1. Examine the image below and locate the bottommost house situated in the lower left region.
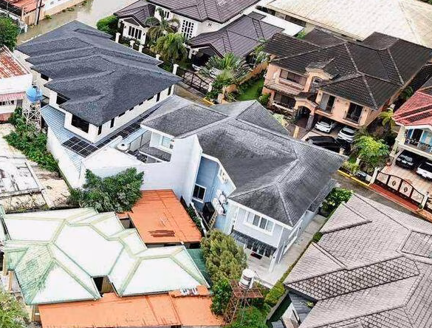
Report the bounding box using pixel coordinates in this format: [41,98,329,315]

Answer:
[0,189,226,328]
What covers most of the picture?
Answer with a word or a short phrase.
buildings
